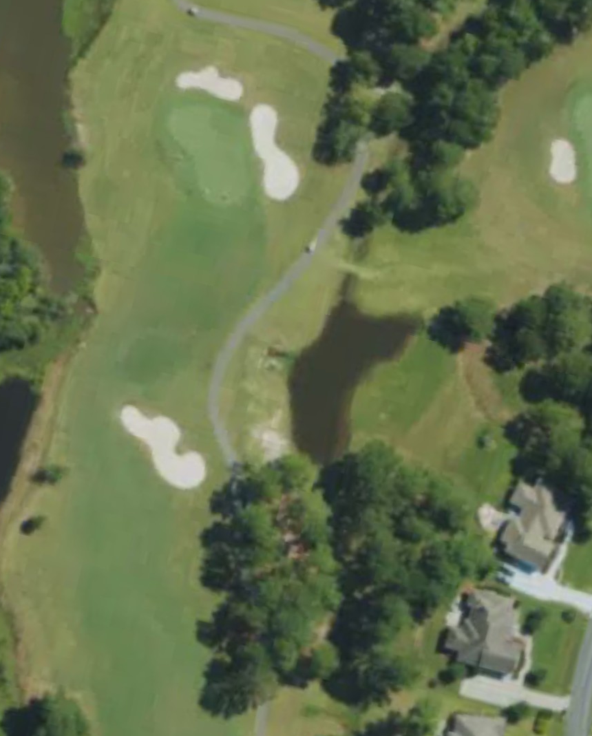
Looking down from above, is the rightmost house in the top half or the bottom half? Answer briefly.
bottom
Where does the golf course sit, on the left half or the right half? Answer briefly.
left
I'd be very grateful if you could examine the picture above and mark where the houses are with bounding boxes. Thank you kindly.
[494,478,564,574]
[448,713,508,736]
[442,590,526,676]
